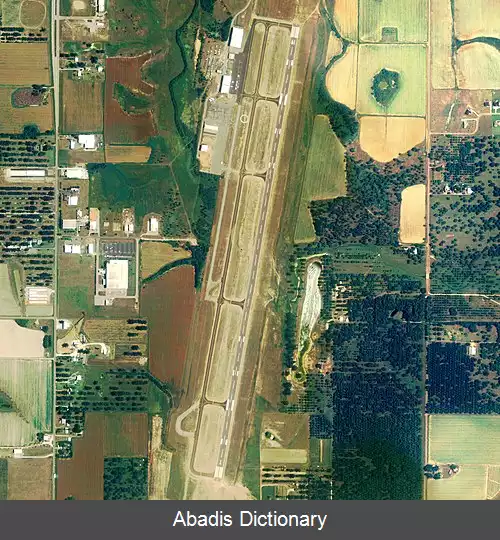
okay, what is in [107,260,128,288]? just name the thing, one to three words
building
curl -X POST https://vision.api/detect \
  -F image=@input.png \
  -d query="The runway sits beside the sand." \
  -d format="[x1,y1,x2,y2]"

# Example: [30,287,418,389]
[214,22,300,482]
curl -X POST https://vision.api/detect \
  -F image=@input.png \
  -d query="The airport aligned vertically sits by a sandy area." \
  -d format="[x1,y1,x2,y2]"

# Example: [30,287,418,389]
[173,12,304,540]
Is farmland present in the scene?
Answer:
Yes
